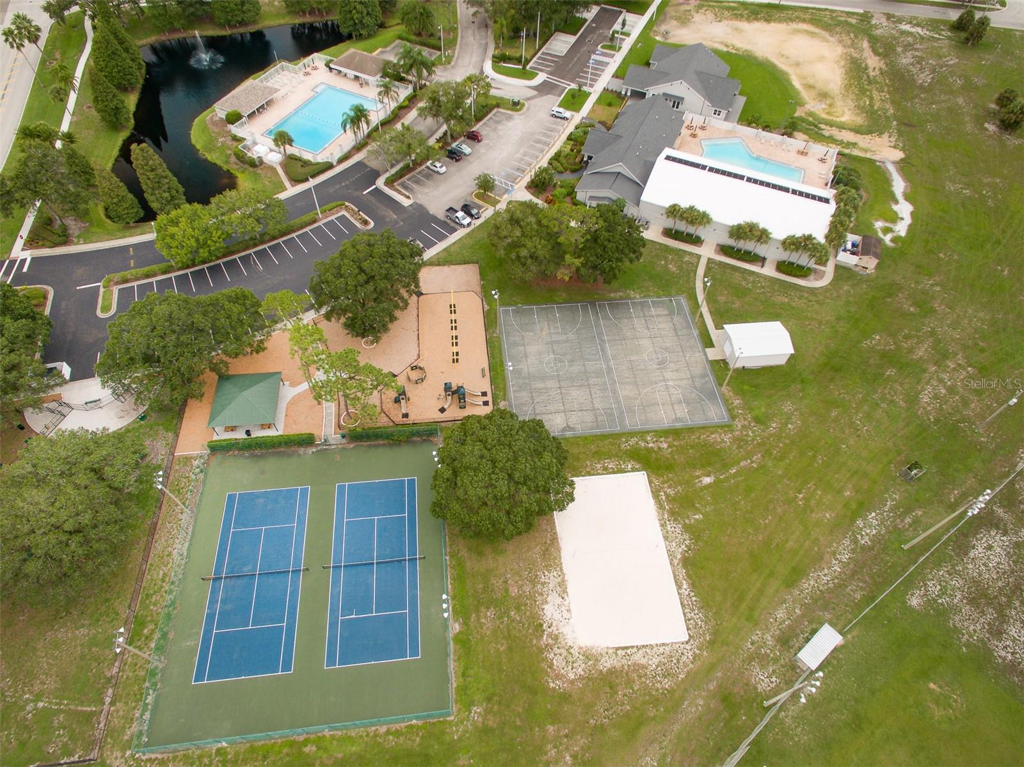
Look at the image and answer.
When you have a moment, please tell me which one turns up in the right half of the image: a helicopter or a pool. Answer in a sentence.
What appears in the right half of the image is a pool.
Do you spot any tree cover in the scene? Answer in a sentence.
Yes, some tree cover is visible.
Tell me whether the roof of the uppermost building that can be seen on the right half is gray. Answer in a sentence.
Yes, gray is the color of the roof of the uppermost building that can be seen on the right half.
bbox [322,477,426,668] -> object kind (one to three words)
tennis court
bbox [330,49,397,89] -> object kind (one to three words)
building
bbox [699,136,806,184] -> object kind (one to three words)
swimming pool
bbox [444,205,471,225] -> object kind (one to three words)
vehicle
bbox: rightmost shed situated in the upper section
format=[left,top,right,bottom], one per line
[860,238,888,271]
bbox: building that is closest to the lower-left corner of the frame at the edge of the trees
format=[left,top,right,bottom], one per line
[208,373,284,434]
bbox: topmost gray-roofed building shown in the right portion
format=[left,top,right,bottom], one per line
[617,43,743,118]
